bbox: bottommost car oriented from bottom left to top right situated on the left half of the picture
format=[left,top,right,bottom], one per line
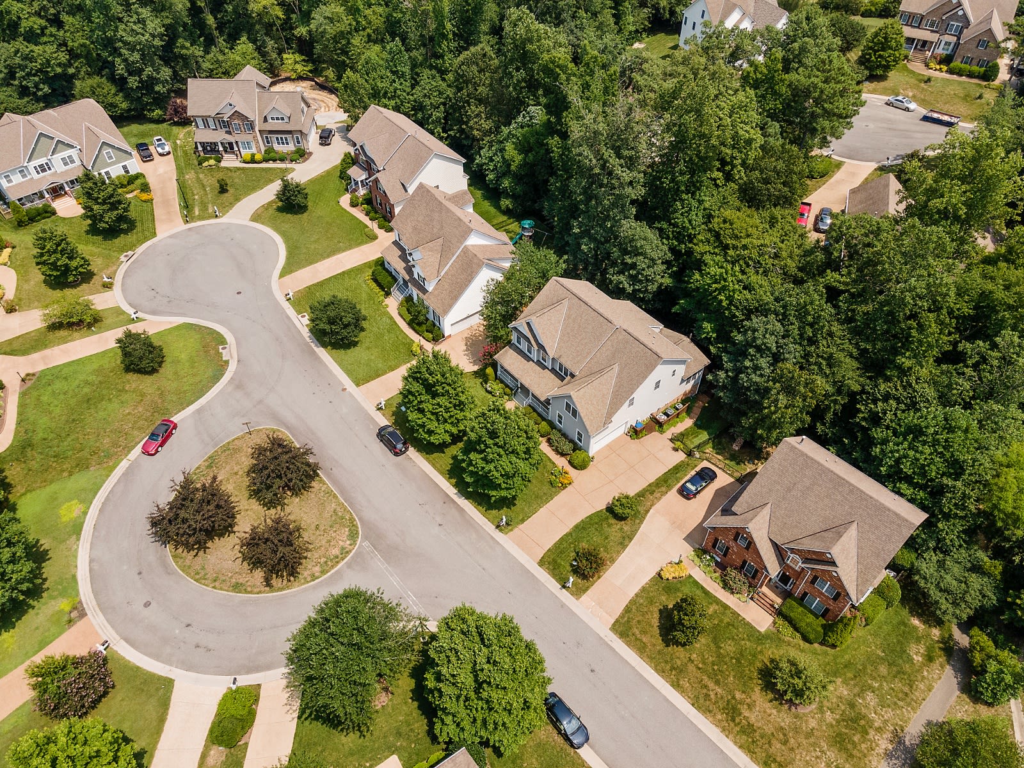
[142,419,177,457]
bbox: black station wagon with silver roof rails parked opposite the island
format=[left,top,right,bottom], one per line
[375,425,411,460]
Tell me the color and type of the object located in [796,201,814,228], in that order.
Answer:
red vehicle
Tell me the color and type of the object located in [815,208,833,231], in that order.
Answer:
gray car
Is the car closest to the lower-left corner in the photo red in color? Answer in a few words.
Yes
